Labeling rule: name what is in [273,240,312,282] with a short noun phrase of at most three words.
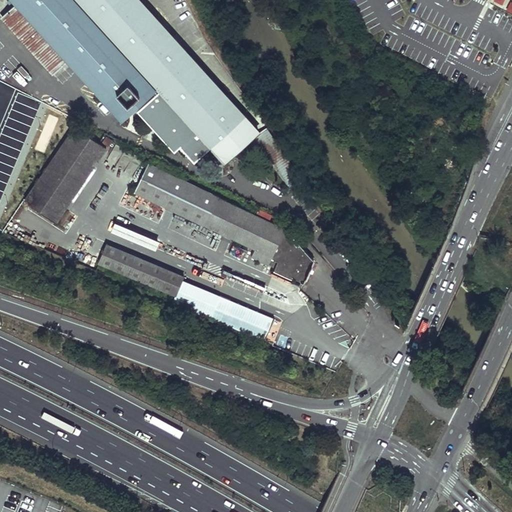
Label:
building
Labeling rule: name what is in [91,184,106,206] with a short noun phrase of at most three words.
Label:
vehicle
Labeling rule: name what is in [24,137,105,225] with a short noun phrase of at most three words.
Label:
shed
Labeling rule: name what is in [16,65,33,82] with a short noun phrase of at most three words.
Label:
vehicle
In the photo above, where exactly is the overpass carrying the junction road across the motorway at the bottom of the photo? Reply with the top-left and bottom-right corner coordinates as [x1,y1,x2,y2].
[317,470,367,512]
